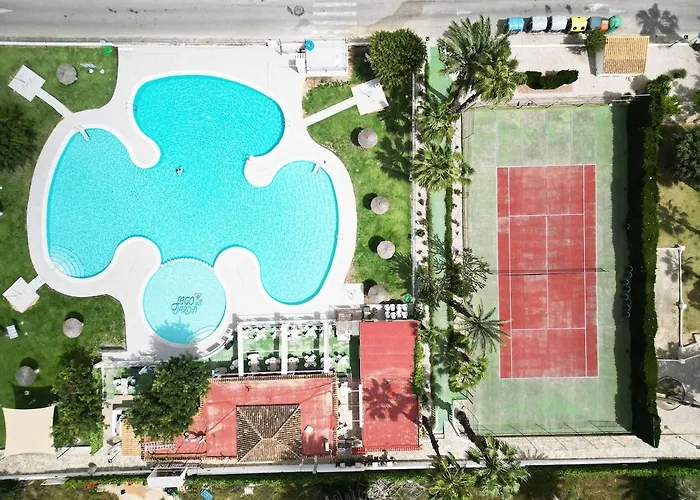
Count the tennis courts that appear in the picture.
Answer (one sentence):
In total, 1 tennis court can be seen.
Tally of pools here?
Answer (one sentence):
I count just 1 pool.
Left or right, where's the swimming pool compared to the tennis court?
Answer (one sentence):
You can see the swimming pool positioned to the left of the tennis court.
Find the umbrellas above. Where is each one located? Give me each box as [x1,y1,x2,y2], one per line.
[59,64,83,88]
[65,315,88,338]
[375,239,396,261]
[18,363,43,386]
[356,129,377,150]
[364,281,389,306]
[368,194,390,216]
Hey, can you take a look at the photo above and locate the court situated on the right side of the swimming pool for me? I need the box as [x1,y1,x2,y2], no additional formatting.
[465,101,638,435]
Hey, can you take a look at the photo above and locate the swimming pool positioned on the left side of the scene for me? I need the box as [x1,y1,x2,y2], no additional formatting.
[42,70,342,349]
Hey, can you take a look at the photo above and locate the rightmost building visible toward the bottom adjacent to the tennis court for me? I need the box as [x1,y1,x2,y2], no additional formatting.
[360,319,421,453]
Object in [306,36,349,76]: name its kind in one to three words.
building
